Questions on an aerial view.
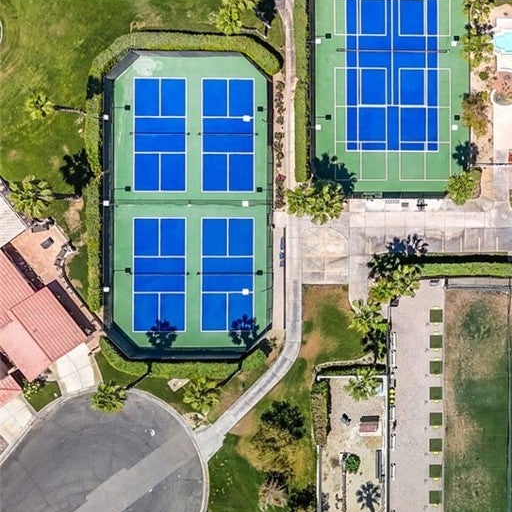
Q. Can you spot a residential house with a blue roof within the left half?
No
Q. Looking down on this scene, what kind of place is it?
sports ground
